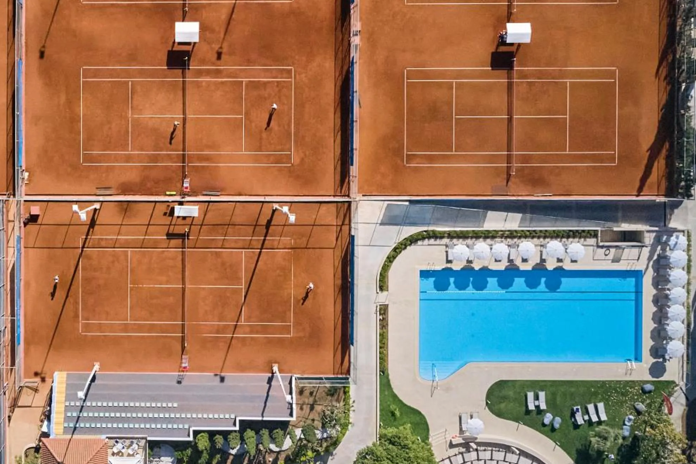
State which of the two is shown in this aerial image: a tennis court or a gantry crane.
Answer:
tennis court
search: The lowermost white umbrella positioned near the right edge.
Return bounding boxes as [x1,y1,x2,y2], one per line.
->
[660,342,683,359]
